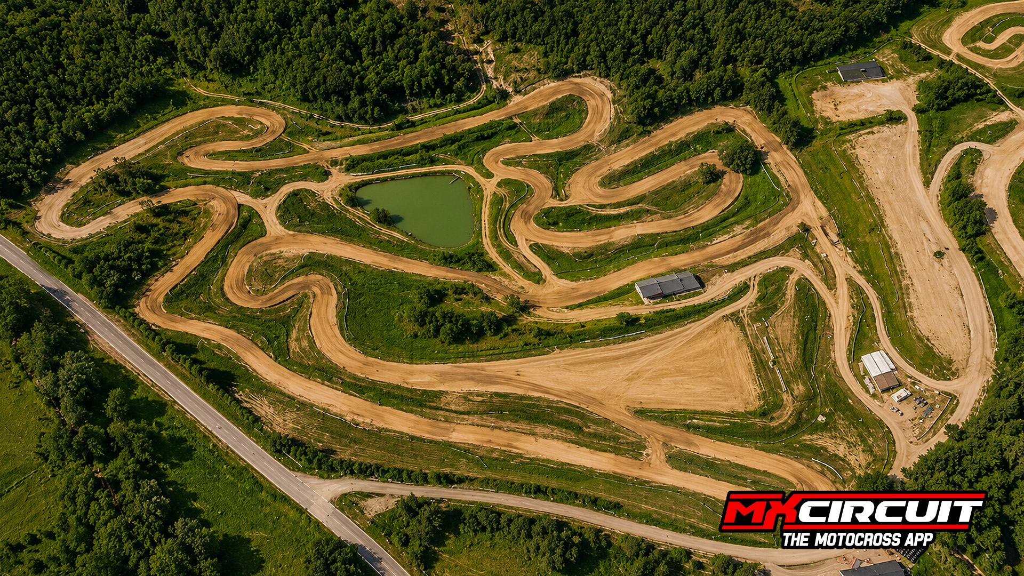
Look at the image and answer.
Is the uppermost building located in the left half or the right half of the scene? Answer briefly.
right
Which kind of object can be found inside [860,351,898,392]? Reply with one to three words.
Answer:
shed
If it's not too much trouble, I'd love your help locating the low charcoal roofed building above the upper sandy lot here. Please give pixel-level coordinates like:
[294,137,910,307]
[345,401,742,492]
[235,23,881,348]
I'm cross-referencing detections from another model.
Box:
[836,61,884,88]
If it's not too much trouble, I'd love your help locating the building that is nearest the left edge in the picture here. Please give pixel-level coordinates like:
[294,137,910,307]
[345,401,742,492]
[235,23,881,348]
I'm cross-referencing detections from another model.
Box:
[631,272,694,308]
